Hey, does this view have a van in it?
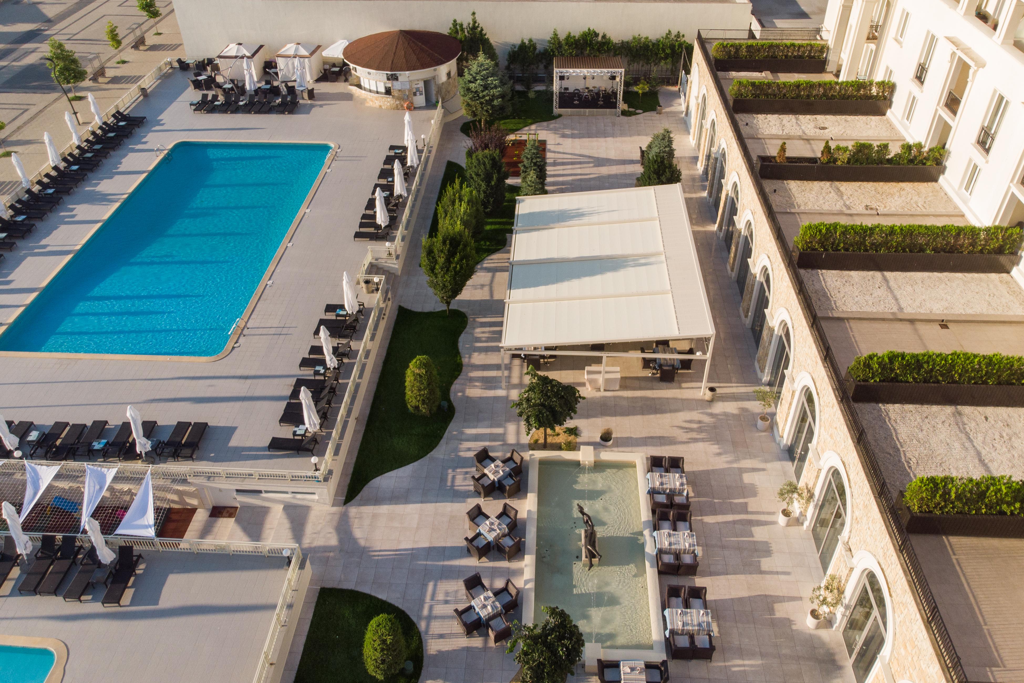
No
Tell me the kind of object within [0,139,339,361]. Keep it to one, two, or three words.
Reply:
swimming pool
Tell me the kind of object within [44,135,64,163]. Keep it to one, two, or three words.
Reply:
umbrella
